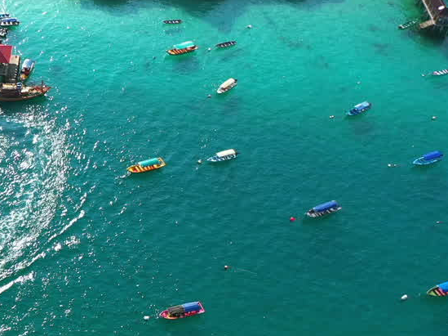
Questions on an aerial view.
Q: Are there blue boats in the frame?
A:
Yes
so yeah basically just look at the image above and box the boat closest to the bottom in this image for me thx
[159,299,205,318]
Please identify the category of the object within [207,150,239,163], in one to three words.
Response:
boat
